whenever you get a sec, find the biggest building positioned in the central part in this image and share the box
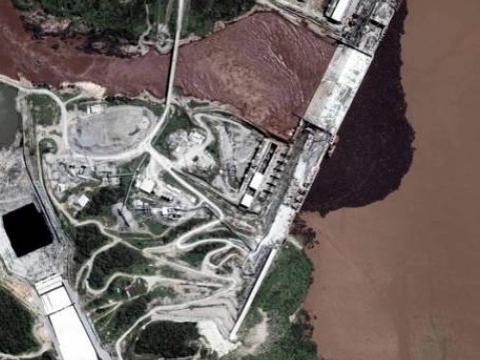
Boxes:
[240,140,289,209]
